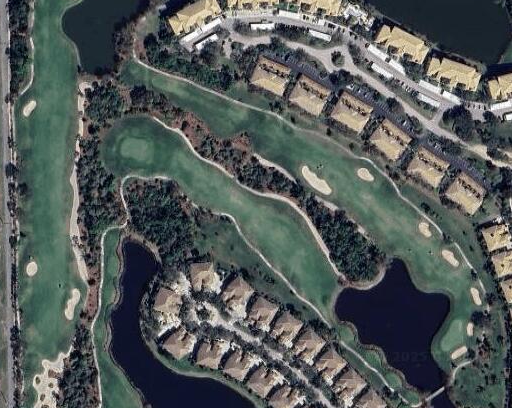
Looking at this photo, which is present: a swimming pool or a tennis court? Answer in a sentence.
It is a swimming pool that can be seen here.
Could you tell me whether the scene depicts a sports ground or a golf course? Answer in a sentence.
This image shows a golf course.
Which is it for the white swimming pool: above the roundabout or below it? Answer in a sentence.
As seen from overhead, the white swimming pool falls above the roundabout in the picture.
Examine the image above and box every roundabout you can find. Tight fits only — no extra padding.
[267,34,365,81]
